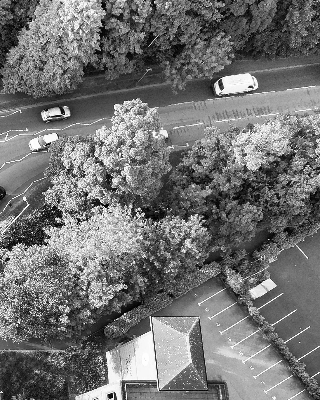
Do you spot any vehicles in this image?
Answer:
Yes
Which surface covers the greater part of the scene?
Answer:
trees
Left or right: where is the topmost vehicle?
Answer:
right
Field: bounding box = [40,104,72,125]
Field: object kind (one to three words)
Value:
car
